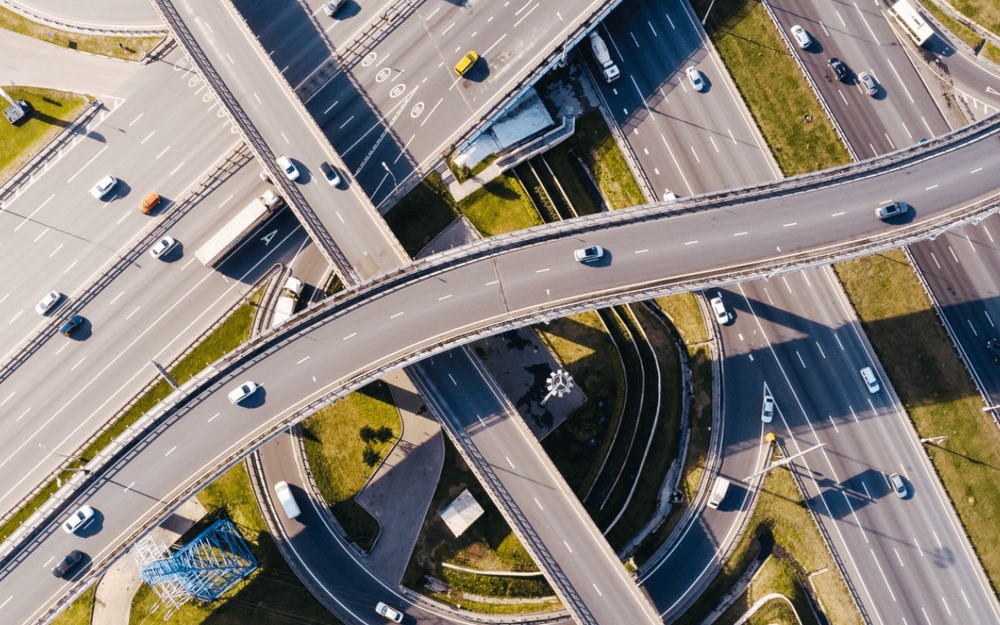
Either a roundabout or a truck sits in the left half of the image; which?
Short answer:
truck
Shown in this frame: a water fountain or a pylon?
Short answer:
pylon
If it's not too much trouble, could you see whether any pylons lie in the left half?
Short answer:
Yes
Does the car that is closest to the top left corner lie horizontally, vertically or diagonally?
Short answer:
diagonally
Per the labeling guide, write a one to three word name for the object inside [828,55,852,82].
car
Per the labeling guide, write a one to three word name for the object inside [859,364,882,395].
car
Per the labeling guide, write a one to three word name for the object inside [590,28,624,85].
truck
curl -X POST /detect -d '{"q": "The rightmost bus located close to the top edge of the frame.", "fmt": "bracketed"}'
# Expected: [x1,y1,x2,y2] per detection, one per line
[891,0,936,46]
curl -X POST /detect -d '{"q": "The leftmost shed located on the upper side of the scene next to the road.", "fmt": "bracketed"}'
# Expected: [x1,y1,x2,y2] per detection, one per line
[453,132,501,170]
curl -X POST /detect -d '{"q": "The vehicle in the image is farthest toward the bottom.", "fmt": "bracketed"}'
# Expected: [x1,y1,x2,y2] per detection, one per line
[373,601,405,625]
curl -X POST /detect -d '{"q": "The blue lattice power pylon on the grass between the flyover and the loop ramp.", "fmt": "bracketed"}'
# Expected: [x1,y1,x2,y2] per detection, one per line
[127,514,263,618]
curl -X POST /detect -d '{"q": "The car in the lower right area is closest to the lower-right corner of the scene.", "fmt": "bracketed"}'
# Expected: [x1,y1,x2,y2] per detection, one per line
[888,471,910,503]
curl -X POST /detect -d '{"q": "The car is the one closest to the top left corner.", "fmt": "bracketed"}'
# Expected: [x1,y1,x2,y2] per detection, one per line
[87,172,116,200]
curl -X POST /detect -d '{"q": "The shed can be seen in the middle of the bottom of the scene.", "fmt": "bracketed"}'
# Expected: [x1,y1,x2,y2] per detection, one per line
[440,489,483,538]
